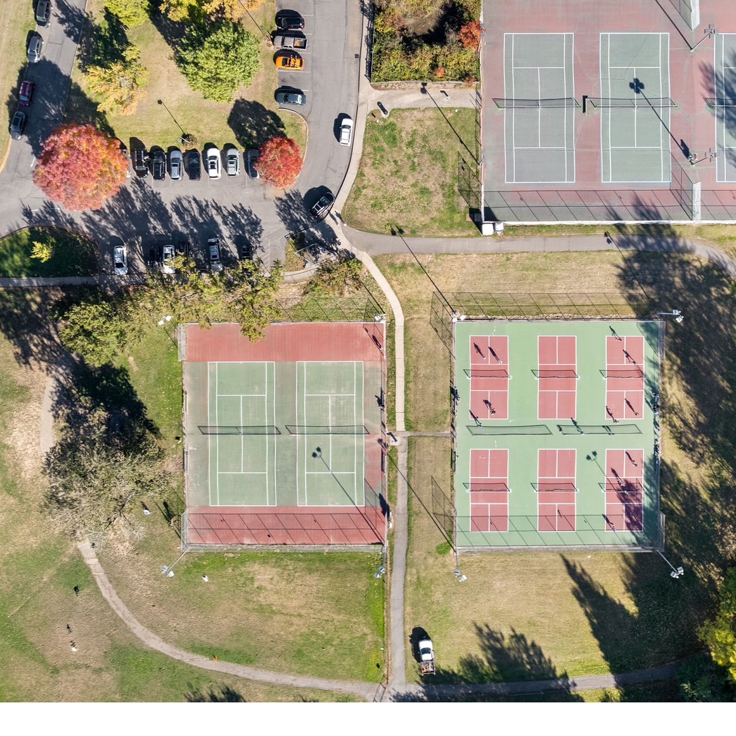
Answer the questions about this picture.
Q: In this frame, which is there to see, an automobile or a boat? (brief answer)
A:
automobile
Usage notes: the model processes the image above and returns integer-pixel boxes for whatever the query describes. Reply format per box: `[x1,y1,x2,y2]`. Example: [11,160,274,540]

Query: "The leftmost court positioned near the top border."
[504,32,574,184]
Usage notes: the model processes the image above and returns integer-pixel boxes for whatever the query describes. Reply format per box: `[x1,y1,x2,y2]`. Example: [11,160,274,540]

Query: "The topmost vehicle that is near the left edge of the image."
[36,0,54,30]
